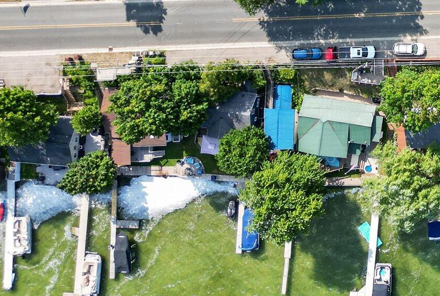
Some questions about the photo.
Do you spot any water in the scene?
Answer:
Yes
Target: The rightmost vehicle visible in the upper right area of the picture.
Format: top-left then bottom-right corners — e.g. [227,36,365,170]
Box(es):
[393,42,425,56]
